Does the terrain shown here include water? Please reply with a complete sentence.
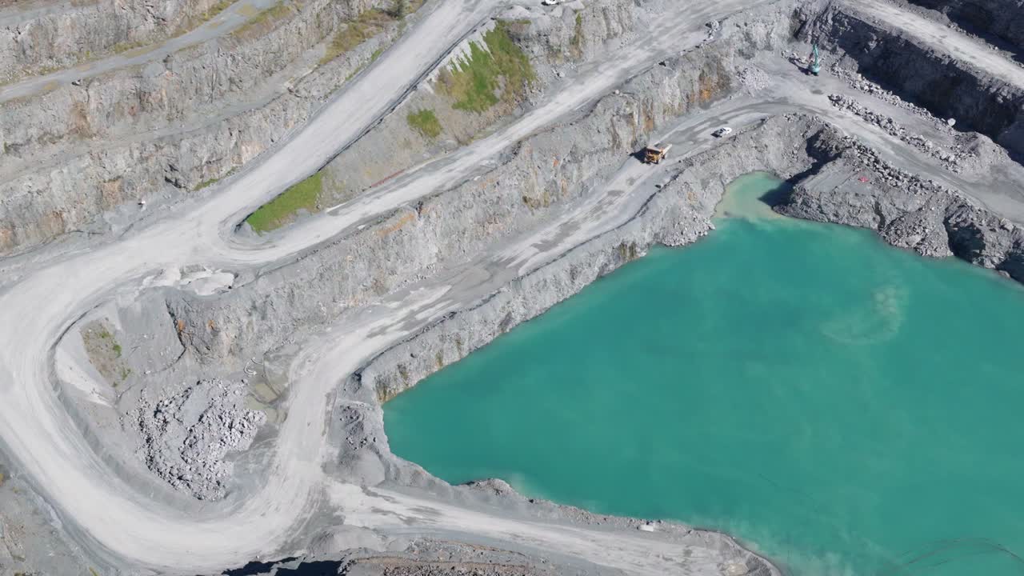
Yes, some water is visible.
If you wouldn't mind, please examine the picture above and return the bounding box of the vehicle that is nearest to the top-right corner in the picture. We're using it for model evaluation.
[809,50,821,76]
